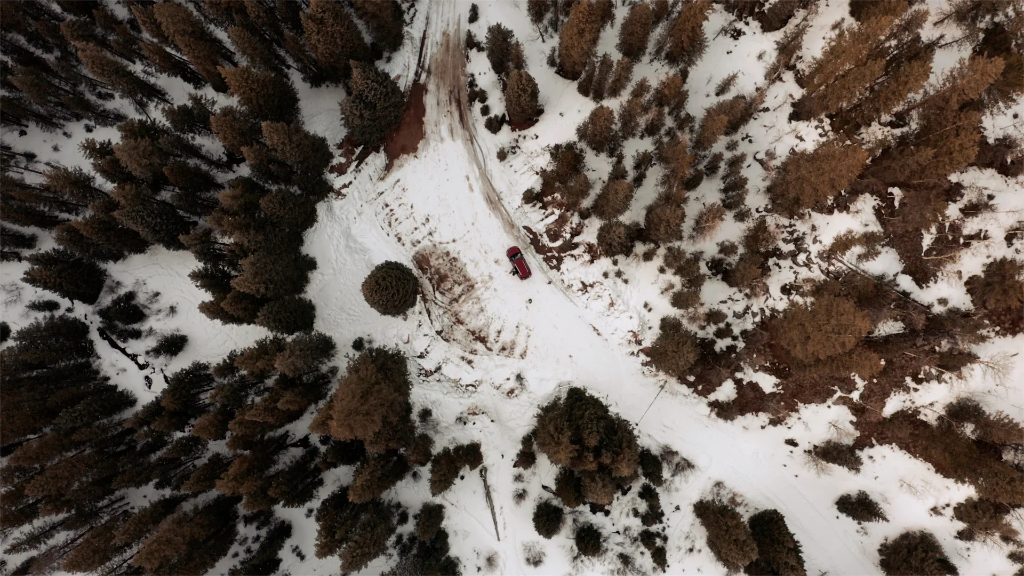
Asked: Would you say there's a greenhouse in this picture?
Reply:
No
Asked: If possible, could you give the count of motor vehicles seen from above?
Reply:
one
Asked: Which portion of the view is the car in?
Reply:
center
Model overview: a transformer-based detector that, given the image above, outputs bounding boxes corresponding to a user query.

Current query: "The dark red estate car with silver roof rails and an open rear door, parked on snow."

[508,245,531,281]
